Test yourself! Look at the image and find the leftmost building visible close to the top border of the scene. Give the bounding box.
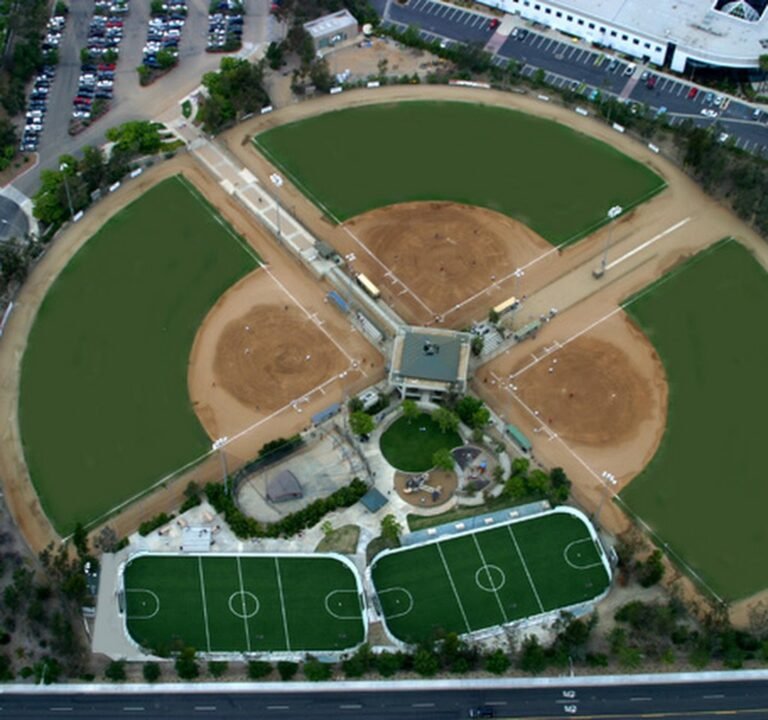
[304,8,358,52]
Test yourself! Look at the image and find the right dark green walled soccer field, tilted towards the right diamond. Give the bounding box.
[365,502,616,651]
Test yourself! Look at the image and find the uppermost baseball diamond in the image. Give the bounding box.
[251,99,670,325]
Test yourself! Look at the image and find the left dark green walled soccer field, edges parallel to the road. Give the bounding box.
[118,550,371,658]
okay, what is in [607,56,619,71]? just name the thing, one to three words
vehicle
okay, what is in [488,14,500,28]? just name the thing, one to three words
vehicle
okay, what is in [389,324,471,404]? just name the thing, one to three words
building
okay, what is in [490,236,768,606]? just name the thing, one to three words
baseball field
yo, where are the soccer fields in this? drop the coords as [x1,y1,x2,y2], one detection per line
[365,502,616,651]
[118,550,371,658]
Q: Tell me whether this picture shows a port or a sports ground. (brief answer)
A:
sports ground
